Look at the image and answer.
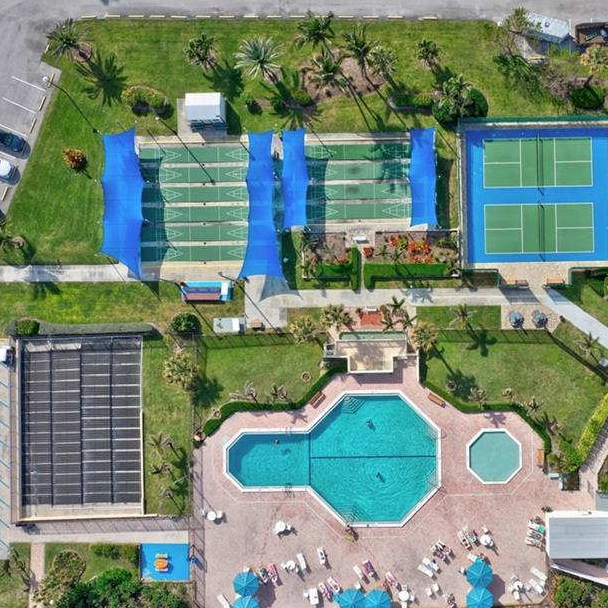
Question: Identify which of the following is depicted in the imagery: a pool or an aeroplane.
pool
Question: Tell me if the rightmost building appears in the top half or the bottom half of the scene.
bottom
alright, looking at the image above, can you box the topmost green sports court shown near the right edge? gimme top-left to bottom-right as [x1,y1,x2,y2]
[484,133,593,190]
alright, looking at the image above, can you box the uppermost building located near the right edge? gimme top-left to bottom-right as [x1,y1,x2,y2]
[546,511,608,560]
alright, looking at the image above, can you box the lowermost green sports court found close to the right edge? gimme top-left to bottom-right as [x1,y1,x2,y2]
[485,200,595,256]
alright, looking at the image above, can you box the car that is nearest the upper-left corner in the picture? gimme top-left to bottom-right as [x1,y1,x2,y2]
[0,128,28,155]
